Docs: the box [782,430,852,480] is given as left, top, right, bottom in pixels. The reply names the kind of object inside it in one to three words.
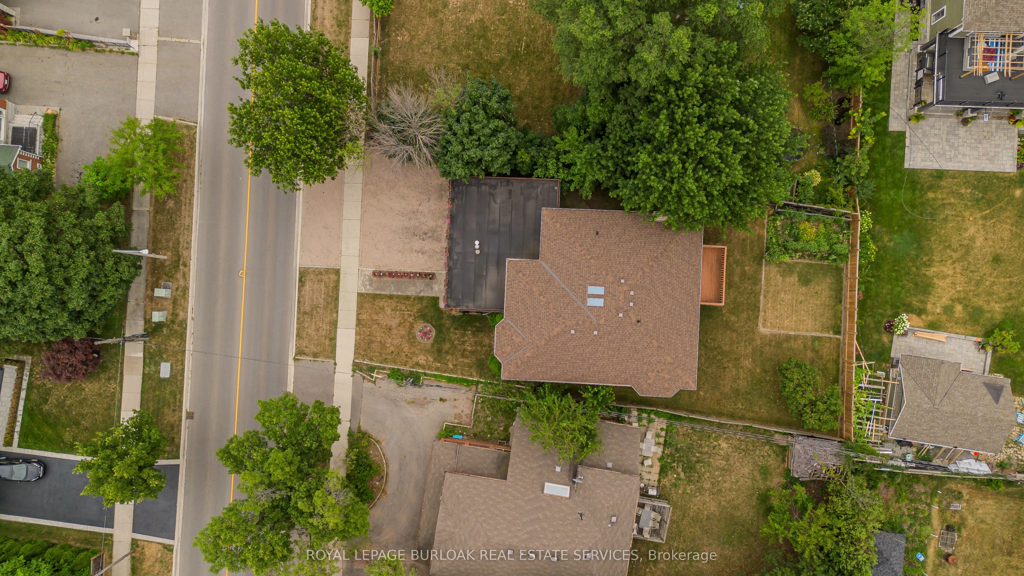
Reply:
shed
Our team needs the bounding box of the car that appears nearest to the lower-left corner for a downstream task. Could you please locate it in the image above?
[0,457,40,487]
